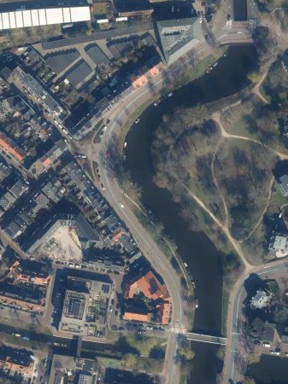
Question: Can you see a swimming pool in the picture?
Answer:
No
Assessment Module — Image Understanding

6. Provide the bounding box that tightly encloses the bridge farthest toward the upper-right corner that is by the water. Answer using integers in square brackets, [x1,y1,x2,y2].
[227,20,255,44]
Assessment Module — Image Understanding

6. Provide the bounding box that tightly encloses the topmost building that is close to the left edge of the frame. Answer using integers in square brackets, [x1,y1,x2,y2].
[0,5,92,29]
